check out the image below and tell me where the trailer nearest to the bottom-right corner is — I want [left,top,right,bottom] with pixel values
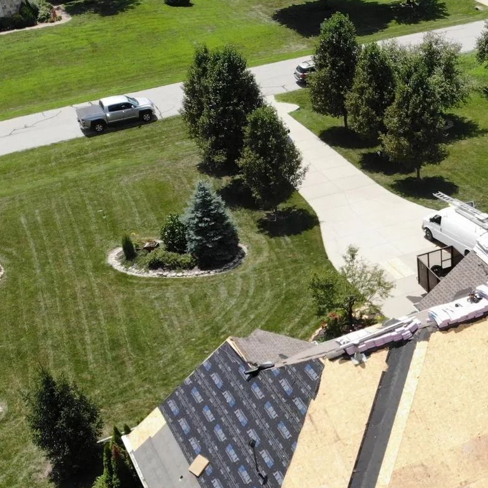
[419,246,462,289]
